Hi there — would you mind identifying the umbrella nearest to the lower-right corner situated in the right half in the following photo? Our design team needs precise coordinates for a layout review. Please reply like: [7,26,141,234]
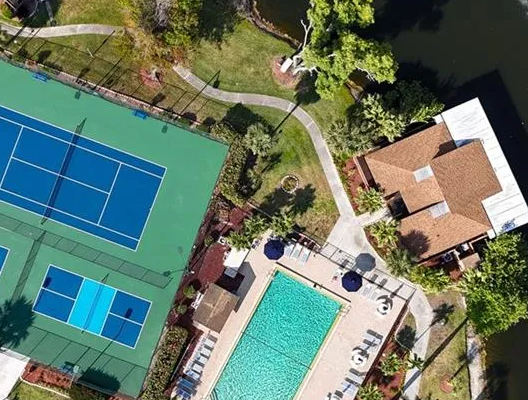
[342,271,363,291]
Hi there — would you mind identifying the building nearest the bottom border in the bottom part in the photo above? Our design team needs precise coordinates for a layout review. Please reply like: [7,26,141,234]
[192,283,239,333]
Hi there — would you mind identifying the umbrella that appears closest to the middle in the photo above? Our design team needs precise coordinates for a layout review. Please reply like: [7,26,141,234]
[265,239,285,259]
